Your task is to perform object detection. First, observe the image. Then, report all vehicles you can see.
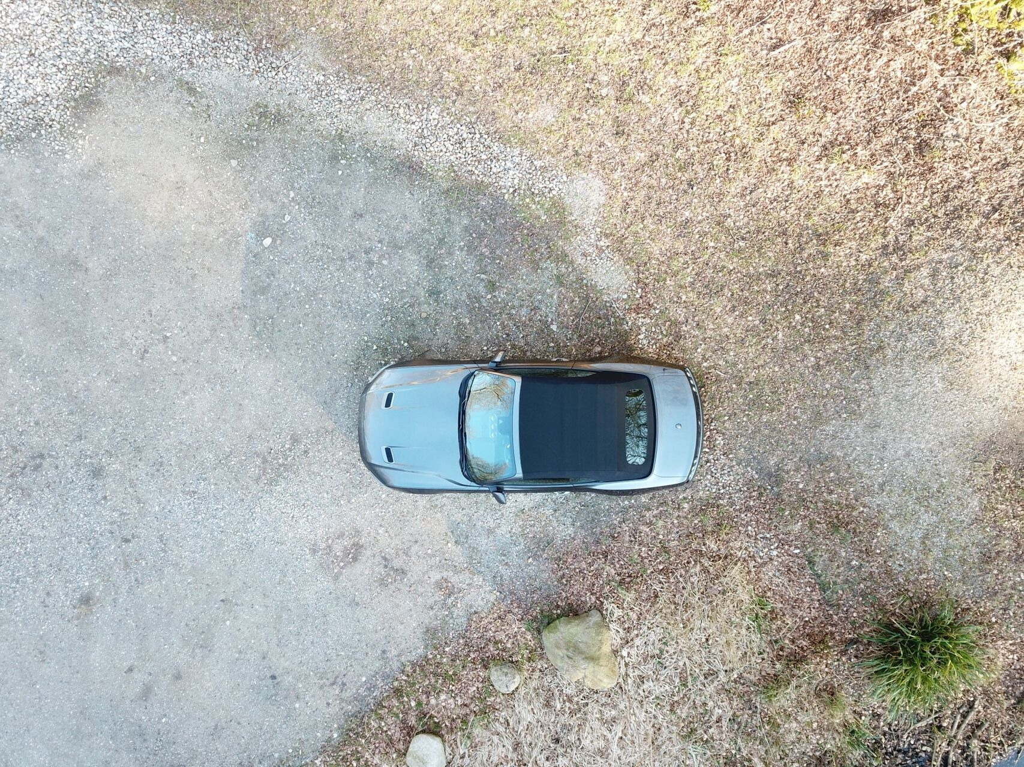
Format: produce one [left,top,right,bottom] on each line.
[358,351,703,506]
